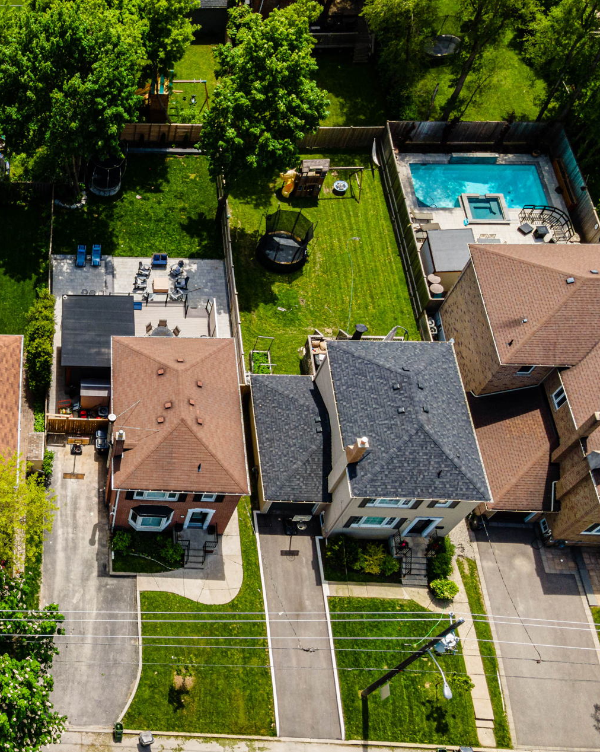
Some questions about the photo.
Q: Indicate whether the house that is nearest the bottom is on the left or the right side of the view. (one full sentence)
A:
The house that is nearest the bottom appears in the left half of the scene.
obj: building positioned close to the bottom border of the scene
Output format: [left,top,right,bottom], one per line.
[126,498,275,737]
